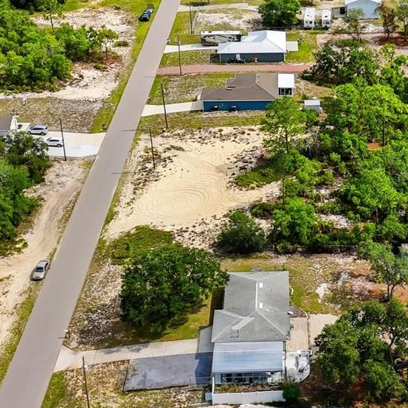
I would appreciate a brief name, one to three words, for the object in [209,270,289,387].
house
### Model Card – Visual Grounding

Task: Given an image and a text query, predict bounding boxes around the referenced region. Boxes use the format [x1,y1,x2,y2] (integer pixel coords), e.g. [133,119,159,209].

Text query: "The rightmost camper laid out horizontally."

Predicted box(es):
[198,28,241,45]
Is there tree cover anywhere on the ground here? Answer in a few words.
Yes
